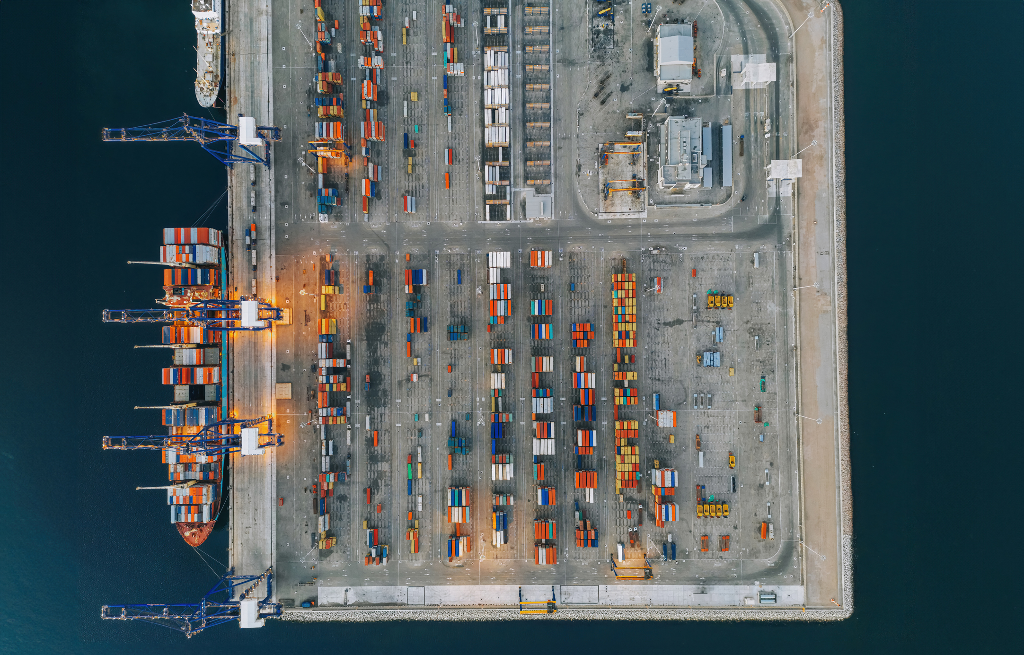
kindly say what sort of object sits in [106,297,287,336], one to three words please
container crane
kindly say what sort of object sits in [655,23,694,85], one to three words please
building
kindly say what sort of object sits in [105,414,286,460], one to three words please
container crane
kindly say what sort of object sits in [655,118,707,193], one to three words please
building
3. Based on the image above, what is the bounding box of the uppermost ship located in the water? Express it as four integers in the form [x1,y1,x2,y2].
[187,0,225,107]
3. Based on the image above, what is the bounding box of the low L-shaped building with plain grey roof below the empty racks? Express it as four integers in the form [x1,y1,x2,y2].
[526,191,551,220]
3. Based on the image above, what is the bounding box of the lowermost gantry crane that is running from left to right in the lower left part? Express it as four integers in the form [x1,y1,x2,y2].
[103,566,285,638]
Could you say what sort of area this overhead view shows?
port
